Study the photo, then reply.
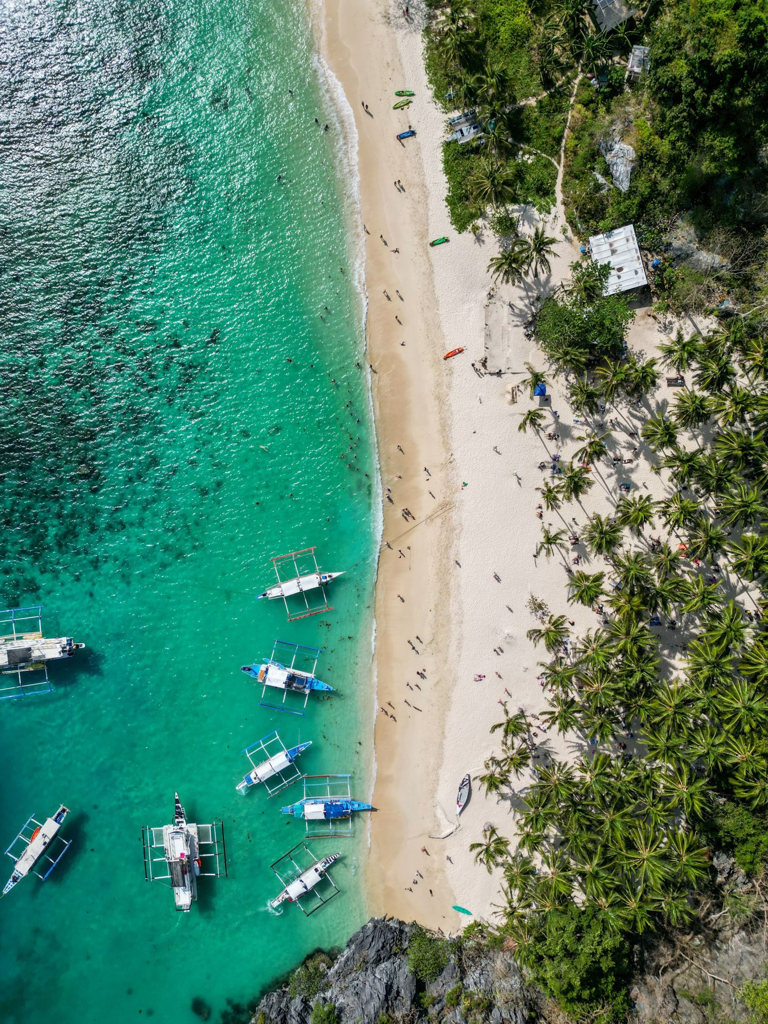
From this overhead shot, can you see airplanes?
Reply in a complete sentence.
No, no airplane is visible in the view.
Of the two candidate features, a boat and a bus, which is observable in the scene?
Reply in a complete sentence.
There is a boat in the scene.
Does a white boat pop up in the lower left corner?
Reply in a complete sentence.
Yes, a white boat can be seen in the lower left corner.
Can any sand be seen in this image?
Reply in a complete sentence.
Yes, some sand is visible.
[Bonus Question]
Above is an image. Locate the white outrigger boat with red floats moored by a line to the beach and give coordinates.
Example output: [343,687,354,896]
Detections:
[257,547,346,621]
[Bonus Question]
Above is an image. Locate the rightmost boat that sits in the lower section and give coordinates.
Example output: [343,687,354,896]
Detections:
[457,773,469,815]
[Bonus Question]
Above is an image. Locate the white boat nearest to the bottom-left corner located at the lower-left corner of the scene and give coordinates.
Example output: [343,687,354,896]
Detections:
[3,803,72,894]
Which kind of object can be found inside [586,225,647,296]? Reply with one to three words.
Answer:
shed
